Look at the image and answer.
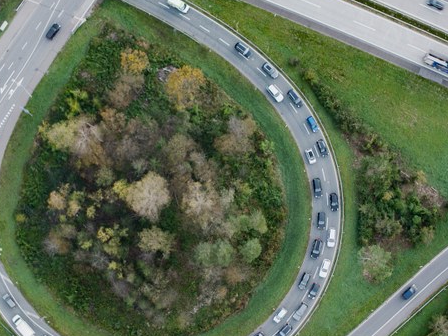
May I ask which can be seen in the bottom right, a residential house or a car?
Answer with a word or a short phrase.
car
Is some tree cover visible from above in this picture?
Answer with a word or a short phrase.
Yes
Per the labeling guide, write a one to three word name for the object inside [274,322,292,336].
car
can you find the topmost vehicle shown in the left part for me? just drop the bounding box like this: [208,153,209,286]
[167,0,189,13]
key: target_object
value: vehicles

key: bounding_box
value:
[304,147,316,166]
[316,139,328,157]
[306,115,319,134]
[1,291,17,311]
[297,271,310,290]
[292,302,308,321]
[266,84,283,103]
[424,0,445,12]
[286,88,303,109]
[167,0,189,13]
[10,314,36,336]
[307,281,320,299]
[329,193,338,211]
[421,52,448,73]
[271,306,289,324]
[261,61,279,80]
[400,283,417,300]
[274,322,292,336]
[317,210,325,231]
[310,238,322,259]
[312,177,322,198]
[233,41,253,59]
[318,258,331,278]
[326,227,336,247]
